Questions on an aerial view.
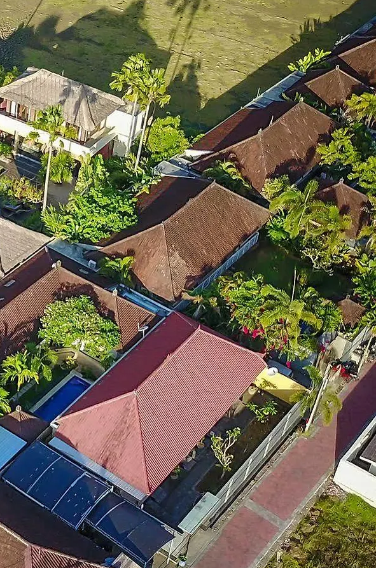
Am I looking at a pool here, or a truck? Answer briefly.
pool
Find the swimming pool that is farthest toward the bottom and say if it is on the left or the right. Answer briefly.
left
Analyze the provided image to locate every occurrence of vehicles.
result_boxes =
[343,356,359,371]
[335,353,343,373]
